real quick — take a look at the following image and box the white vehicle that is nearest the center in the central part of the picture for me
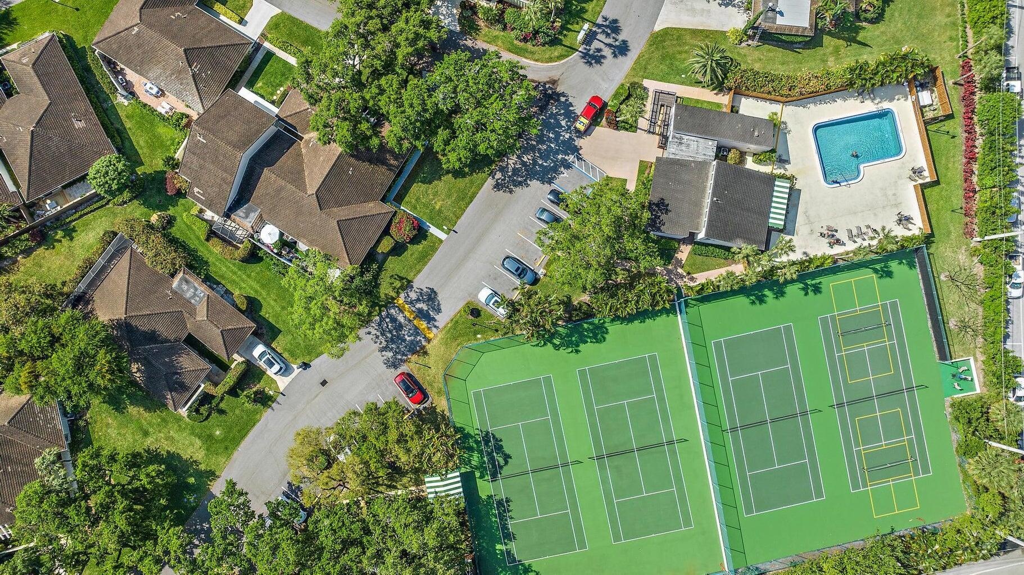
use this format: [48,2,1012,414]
[477,289,509,320]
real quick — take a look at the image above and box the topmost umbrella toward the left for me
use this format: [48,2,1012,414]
[261,224,281,244]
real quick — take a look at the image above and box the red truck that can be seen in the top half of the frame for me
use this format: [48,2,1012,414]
[575,93,602,135]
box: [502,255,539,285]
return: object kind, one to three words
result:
car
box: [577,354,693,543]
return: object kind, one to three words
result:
tennis court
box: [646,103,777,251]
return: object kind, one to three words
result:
building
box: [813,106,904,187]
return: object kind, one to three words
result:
swimming pool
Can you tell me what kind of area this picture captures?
residential area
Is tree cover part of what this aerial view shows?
Yes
